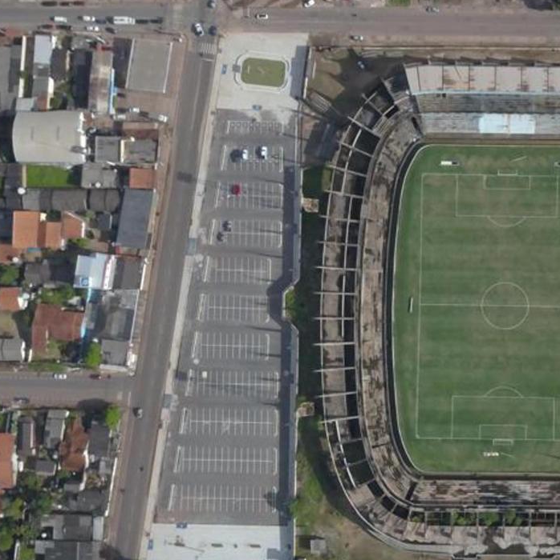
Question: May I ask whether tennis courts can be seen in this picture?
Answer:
No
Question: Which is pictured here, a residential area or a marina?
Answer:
residential area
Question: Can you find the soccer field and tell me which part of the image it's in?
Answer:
right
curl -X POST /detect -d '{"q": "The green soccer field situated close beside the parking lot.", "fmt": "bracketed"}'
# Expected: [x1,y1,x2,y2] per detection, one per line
[391,141,560,478]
